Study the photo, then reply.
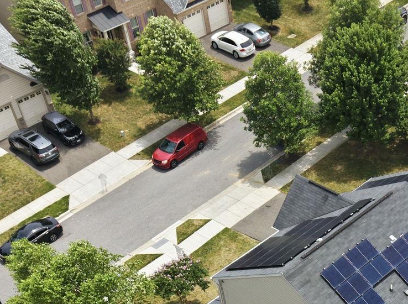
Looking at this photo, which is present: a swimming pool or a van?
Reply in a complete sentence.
Of the two, only a van appears.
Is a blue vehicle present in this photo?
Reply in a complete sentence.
No, no blue vehicle is visible in the view.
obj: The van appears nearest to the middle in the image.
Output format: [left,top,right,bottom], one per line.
[149,125,215,176]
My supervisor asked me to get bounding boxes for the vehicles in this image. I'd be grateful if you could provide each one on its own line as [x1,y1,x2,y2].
[211,33,258,63]
[227,22,275,50]
[33,109,86,149]
[6,126,62,167]
[0,218,73,271]
[149,125,215,176]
